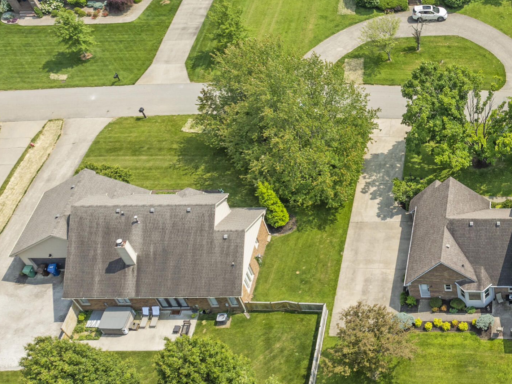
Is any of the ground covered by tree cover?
Yes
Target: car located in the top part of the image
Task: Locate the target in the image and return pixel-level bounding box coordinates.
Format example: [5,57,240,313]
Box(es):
[412,2,449,20]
